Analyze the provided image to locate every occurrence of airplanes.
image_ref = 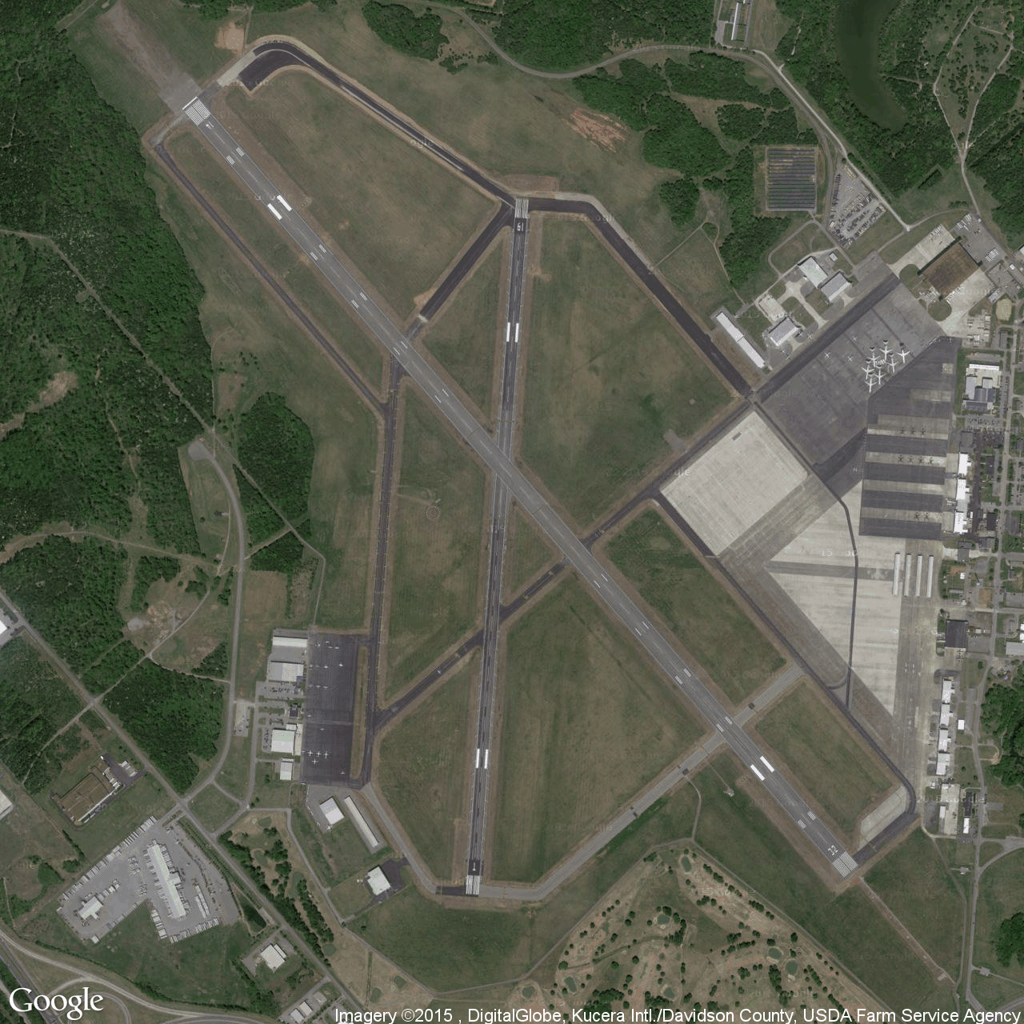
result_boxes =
[862,361,874,379]
[873,365,886,384]
[897,345,909,363]
[880,342,892,360]
[867,349,879,367]
[886,354,899,372]
[864,374,876,392]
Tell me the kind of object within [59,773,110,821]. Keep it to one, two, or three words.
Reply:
building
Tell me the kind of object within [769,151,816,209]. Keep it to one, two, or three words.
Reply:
solar array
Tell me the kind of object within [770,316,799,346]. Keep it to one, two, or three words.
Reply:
hangar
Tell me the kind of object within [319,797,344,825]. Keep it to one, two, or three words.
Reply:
hangar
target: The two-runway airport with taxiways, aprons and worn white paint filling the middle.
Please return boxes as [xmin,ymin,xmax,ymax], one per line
[149,40,961,900]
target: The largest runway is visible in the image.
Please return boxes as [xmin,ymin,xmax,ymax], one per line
[182,96,860,880]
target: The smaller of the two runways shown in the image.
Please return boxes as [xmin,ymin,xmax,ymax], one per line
[465,198,530,895]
